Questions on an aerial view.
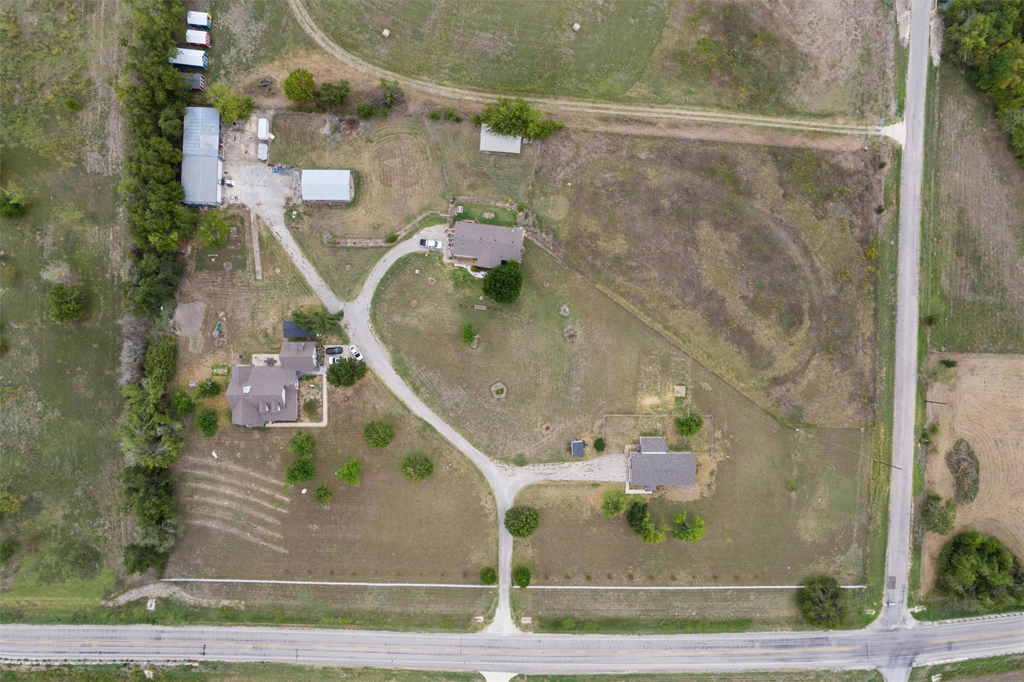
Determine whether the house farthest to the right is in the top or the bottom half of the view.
bottom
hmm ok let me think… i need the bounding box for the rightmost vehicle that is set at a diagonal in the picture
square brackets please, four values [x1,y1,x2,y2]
[348,344,364,360]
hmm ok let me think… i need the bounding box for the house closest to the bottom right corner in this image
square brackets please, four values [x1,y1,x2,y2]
[627,437,697,491]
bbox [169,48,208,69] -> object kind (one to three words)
shed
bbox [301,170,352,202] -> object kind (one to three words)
barn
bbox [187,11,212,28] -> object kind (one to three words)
shed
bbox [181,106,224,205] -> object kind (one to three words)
building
